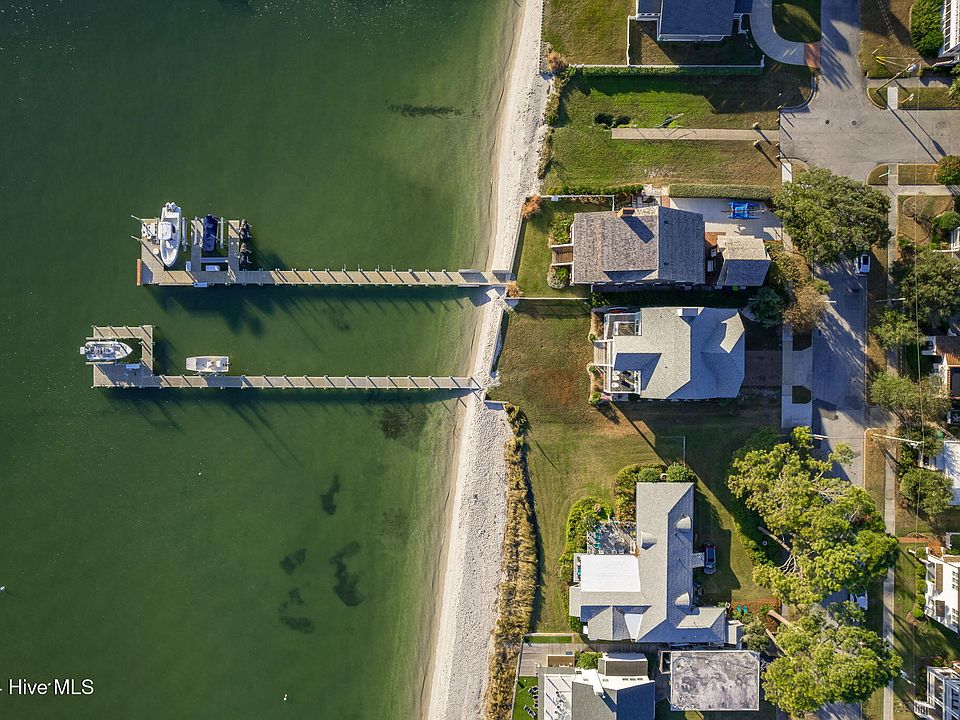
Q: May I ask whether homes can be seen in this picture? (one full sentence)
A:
Yes, I can see a home in this picture.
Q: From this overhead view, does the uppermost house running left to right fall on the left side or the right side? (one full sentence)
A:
The uppermost house running left to right is on the right side of the image.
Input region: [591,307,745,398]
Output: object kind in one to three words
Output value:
house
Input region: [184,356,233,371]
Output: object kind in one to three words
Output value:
boat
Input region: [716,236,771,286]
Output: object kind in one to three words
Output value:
building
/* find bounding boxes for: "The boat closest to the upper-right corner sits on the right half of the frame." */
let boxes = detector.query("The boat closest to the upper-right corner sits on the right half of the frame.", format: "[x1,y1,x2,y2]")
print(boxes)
[724,202,768,218]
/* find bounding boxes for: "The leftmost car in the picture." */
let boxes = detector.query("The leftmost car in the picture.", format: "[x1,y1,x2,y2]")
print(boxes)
[700,541,717,574]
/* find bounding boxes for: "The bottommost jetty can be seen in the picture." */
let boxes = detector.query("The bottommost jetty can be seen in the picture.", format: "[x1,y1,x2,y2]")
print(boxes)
[90,325,479,390]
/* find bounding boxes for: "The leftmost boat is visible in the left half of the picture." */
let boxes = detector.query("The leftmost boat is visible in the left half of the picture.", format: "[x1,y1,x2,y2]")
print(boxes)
[78,342,132,359]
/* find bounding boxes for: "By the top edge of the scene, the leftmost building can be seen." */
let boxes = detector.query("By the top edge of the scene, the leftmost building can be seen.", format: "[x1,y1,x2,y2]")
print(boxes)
[636,0,753,50]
